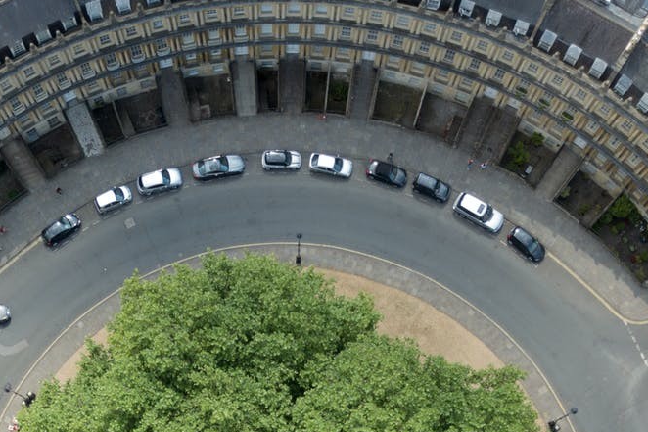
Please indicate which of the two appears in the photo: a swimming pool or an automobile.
automobile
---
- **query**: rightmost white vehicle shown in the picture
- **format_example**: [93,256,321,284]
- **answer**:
[452,191,505,234]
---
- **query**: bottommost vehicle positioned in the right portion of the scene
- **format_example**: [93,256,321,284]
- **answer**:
[505,226,546,264]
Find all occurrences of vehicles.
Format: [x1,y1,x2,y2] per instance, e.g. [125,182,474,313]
[41,213,84,249]
[93,184,134,215]
[452,191,505,234]
[409,171,452,203]
[0,305,11,324]
[261,148,302,171]
[505,226,546,264]
[309,155,354,179]
[365,159,408,187]
[193,154,245,182]
[136,166,184,197]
